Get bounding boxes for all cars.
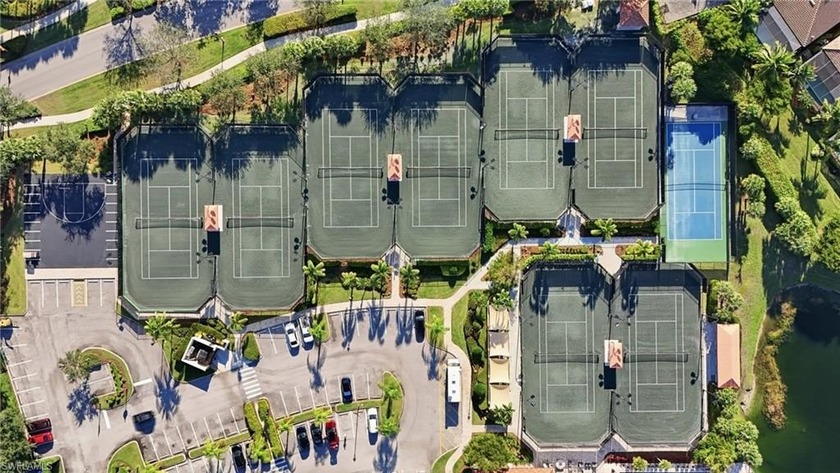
[295,422,308,449]
[132,408,156,422]
[232,444,247,470]
[367,407,377,432]
[414,310,426,334]
[326,419,339,448]
[285,323,299,348]
[341,376,353,402]
[299,314,314,342]
[29,431,54,444]
[310,419,323,444]
[27,417,52,430]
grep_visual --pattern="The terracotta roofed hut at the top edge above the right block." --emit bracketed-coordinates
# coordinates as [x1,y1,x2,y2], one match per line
[616,0,650,31]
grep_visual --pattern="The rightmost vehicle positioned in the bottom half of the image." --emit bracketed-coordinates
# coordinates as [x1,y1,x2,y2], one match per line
[445,357,463,403]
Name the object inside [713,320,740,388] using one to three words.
building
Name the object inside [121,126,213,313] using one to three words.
tennis court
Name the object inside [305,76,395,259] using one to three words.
tennis court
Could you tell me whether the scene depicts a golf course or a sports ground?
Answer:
sports ground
